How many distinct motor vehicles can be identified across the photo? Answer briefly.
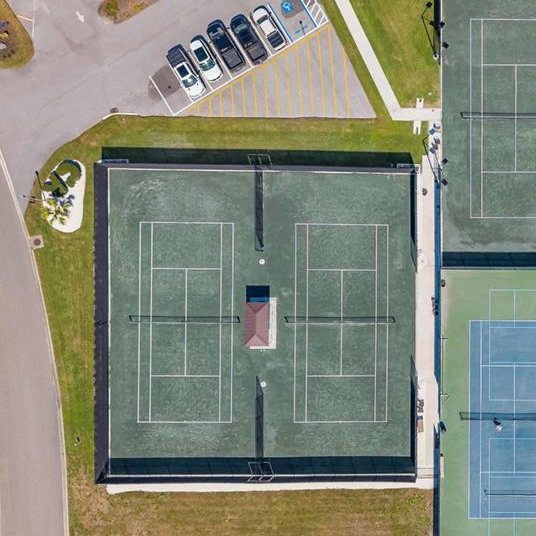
5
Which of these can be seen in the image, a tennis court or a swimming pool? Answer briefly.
tennis court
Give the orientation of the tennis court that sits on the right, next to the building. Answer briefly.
from top to bottom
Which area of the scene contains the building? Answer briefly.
center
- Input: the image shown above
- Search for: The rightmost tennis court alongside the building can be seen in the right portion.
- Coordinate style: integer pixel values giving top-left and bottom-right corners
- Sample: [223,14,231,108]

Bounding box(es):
[263,171,416,476]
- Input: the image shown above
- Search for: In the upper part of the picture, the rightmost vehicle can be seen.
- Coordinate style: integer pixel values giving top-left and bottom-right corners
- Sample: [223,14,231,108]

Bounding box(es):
[252,6,287,51]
